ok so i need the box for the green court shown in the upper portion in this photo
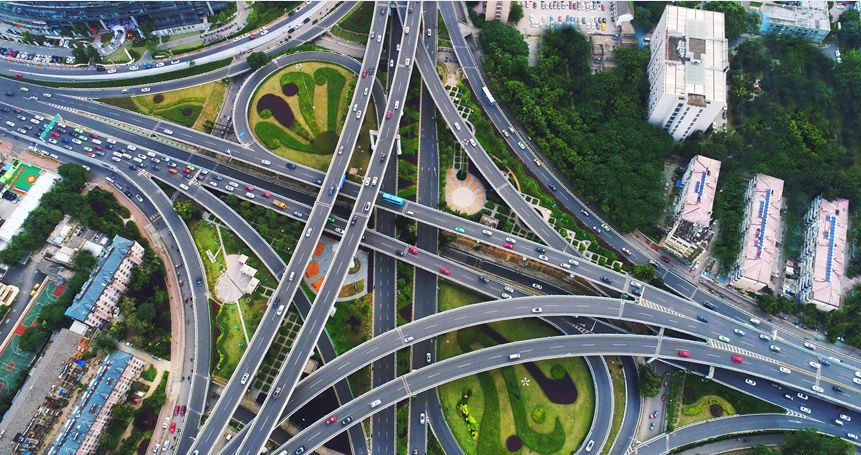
[6,162,40,193]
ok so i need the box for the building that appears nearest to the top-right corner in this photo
[755,0,832,41]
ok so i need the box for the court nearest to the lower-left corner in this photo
[0,281,65,402]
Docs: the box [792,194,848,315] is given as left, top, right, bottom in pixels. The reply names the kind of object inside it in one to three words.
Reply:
building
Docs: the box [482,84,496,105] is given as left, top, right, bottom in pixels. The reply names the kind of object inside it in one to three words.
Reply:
vehicle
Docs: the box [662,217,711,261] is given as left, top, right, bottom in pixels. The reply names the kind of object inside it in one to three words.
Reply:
building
